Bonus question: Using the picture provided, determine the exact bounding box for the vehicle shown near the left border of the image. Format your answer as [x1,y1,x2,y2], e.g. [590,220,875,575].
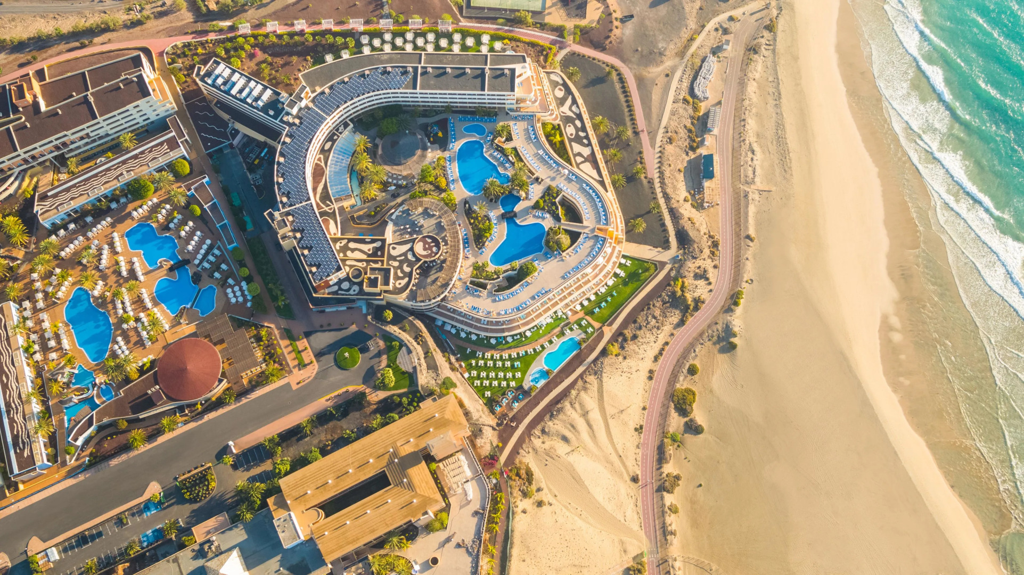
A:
[46,548,59,561]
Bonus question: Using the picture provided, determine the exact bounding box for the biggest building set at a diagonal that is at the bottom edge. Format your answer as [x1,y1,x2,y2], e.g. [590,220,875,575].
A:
[267,392,469,563]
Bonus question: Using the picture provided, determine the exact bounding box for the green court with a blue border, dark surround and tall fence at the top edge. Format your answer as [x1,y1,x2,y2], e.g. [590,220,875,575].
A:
[463,0,546,21]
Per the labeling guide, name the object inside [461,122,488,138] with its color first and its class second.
blue swimming pool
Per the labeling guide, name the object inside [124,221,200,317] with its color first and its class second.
blue swimming pool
